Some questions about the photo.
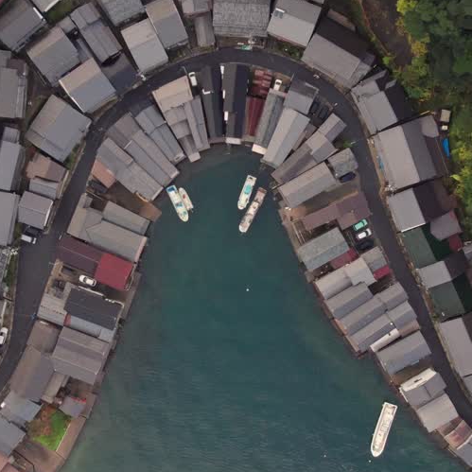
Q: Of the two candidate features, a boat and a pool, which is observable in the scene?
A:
boat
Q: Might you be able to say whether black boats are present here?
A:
No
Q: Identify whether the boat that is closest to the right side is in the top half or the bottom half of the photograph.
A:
bottom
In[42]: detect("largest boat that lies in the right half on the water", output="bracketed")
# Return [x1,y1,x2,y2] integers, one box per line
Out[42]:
[374,402,399,457]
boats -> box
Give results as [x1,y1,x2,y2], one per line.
[180,188,193,212]
[239,160,257,208]
[167,175,187,220]
[241,187,266,231]
[374,402,399,457]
